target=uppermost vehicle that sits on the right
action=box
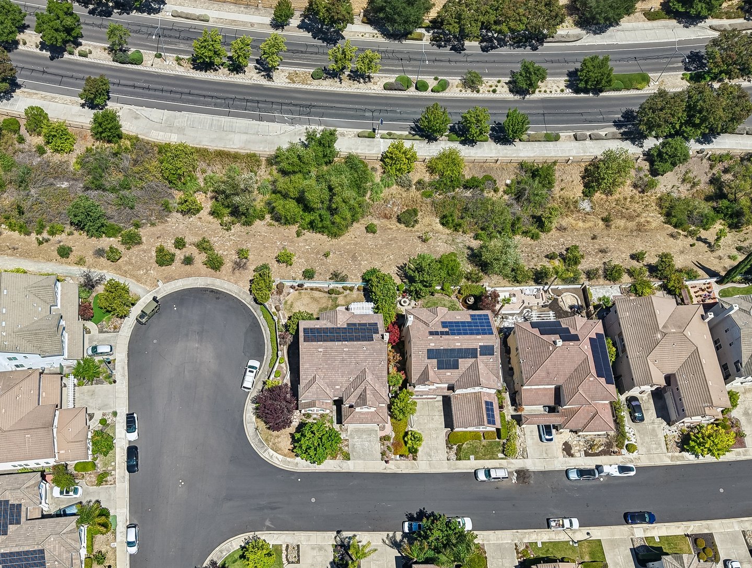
[625,395,645,424]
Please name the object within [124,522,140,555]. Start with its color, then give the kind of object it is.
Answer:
white car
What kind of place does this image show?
residential area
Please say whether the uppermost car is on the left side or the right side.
left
